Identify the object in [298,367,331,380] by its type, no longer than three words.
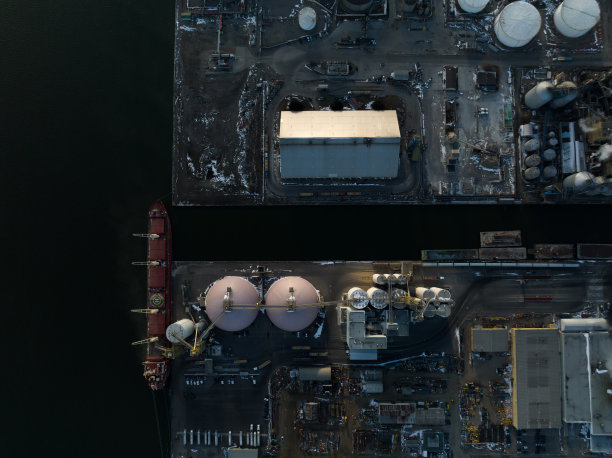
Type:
shed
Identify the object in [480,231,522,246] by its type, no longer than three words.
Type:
ship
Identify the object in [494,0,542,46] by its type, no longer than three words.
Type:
storage tank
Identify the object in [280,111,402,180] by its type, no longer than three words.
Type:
building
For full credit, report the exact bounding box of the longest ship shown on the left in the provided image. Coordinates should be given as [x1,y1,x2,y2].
[130,194,173,456]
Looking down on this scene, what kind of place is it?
port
